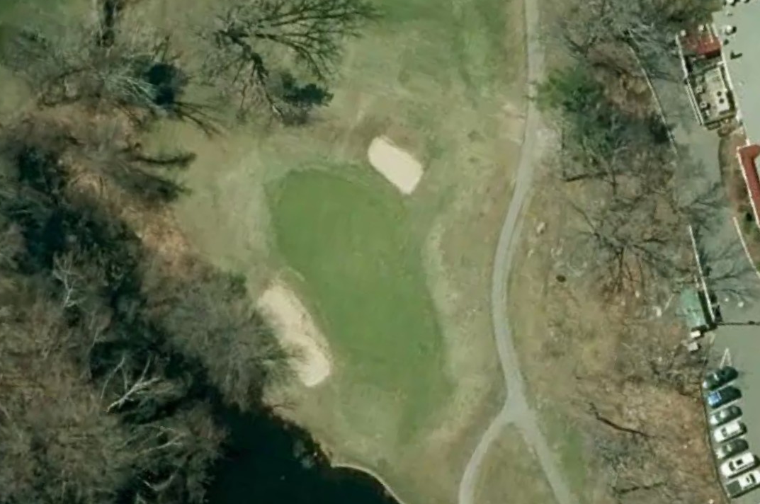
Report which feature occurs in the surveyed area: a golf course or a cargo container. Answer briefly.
golf course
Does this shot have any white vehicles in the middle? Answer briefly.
No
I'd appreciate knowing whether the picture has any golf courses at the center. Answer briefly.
Yes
